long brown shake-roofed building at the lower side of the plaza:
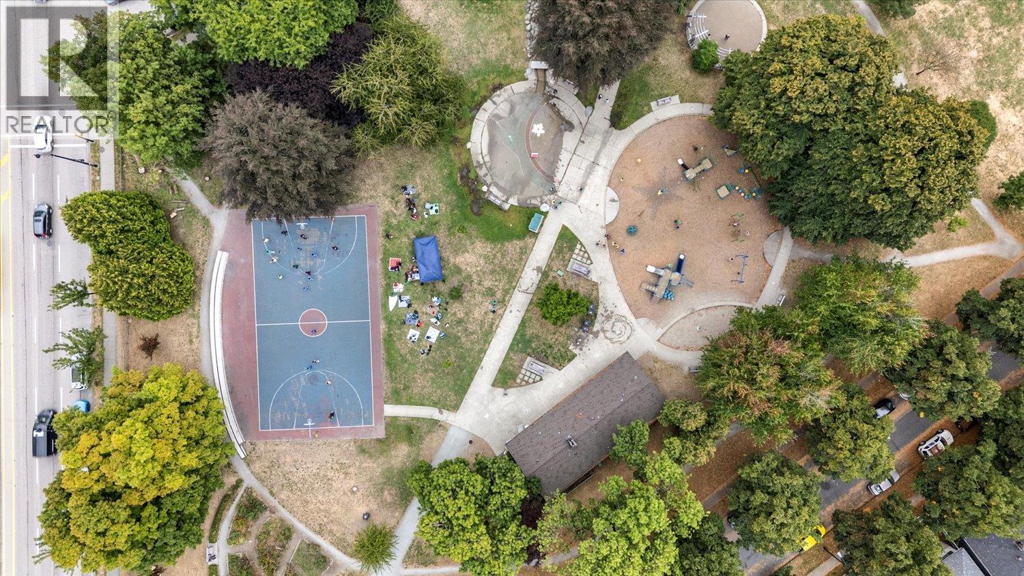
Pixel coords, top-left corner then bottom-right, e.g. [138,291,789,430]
[504,352,664,497]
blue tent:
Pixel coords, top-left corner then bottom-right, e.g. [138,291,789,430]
[414,236,446,284]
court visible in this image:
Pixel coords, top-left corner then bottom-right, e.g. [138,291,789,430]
[221,205,386,441]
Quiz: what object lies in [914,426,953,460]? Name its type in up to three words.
car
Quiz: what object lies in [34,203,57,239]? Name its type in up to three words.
car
